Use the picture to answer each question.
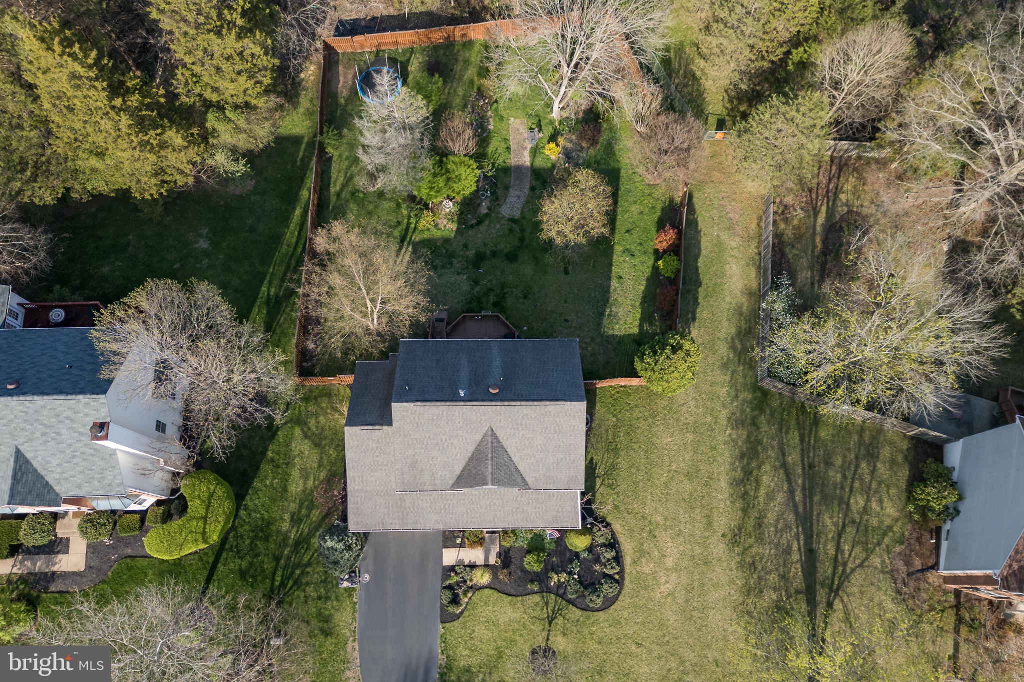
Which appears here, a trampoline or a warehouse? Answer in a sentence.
I can see a trampoline in this picture.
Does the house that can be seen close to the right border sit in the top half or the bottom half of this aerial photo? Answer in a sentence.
Seen from above, the house that can be seen close to the right border lies in the bottom half of the view.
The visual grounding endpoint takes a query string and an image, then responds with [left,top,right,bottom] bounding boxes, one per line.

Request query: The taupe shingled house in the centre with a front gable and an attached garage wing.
[345,337,587,534]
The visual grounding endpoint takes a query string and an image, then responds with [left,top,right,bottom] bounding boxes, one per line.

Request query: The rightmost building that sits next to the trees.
[929,414,1024,589]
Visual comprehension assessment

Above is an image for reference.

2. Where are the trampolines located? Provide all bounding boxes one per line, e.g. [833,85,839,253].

[358,57,400,102]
